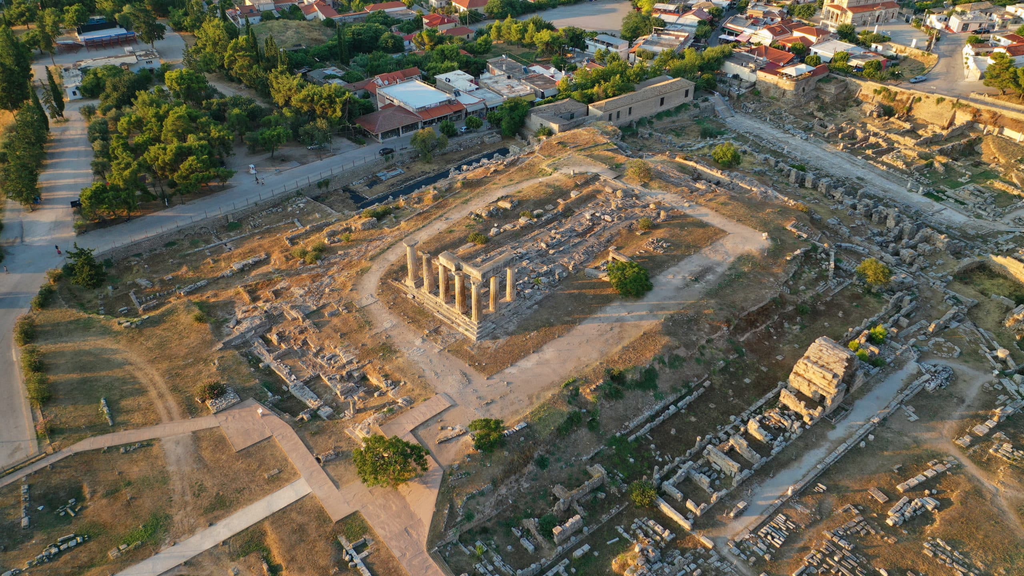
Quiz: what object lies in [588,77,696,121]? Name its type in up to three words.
building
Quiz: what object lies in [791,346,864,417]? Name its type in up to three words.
building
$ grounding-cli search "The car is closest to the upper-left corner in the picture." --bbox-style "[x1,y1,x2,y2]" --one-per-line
[63,194,84,207]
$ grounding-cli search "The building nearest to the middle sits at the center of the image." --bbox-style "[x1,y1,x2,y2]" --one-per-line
[391,241,592,344]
